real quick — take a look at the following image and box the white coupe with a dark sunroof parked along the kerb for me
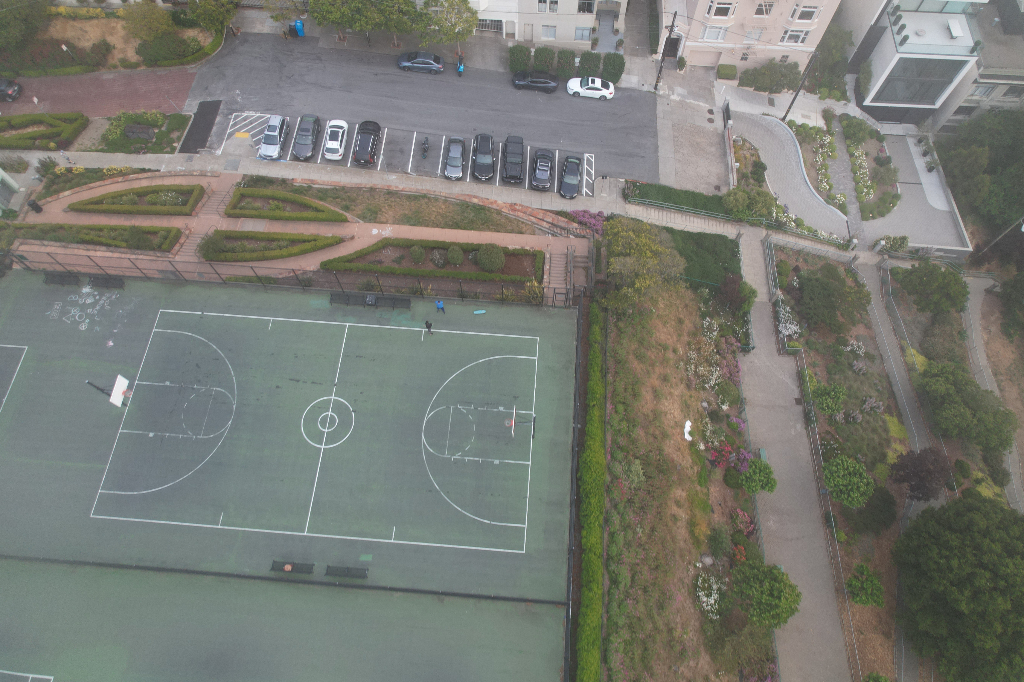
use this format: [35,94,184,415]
[566,76,616,103]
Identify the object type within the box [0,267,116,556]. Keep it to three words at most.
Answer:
tennis court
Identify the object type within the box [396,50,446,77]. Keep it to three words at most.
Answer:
car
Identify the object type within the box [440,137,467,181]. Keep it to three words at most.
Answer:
car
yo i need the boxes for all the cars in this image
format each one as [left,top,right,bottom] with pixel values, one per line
[256,114,288,161]
[500,133,526,184]
[396,50,446,77]
[470,132,496,182]
[509,70,560,97]
[440,137,467,181]
[566,76,616,103]
[557,155,583,200]
[352,122,383,168]
[289,116,321,163]
[529,149,554,193]
[321,120,351,164]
